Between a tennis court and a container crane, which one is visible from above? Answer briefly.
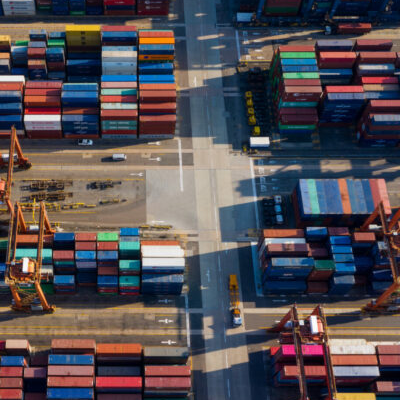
container crane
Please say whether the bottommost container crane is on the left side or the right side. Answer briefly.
right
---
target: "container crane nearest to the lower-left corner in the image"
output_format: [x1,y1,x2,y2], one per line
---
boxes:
[5,202,56,311]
